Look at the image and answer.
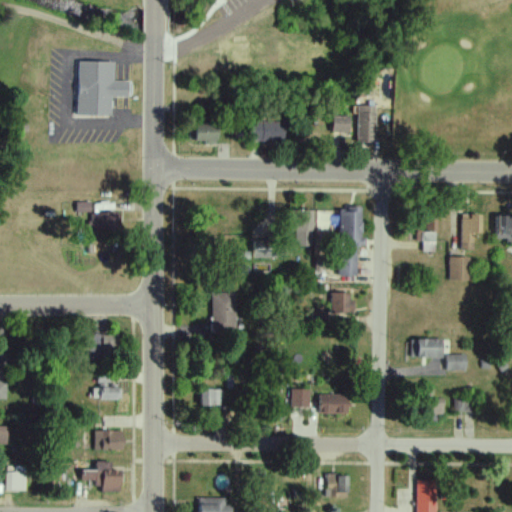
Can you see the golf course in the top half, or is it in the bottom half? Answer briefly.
top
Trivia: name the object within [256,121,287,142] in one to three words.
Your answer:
house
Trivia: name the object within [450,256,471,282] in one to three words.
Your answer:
building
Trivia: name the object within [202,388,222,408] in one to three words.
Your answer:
building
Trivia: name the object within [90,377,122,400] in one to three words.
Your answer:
house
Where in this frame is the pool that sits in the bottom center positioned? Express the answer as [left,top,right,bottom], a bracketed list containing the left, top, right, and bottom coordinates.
[215,474,230,490]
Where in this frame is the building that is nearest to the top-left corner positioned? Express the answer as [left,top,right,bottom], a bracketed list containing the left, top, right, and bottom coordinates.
[77,60,133,115]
